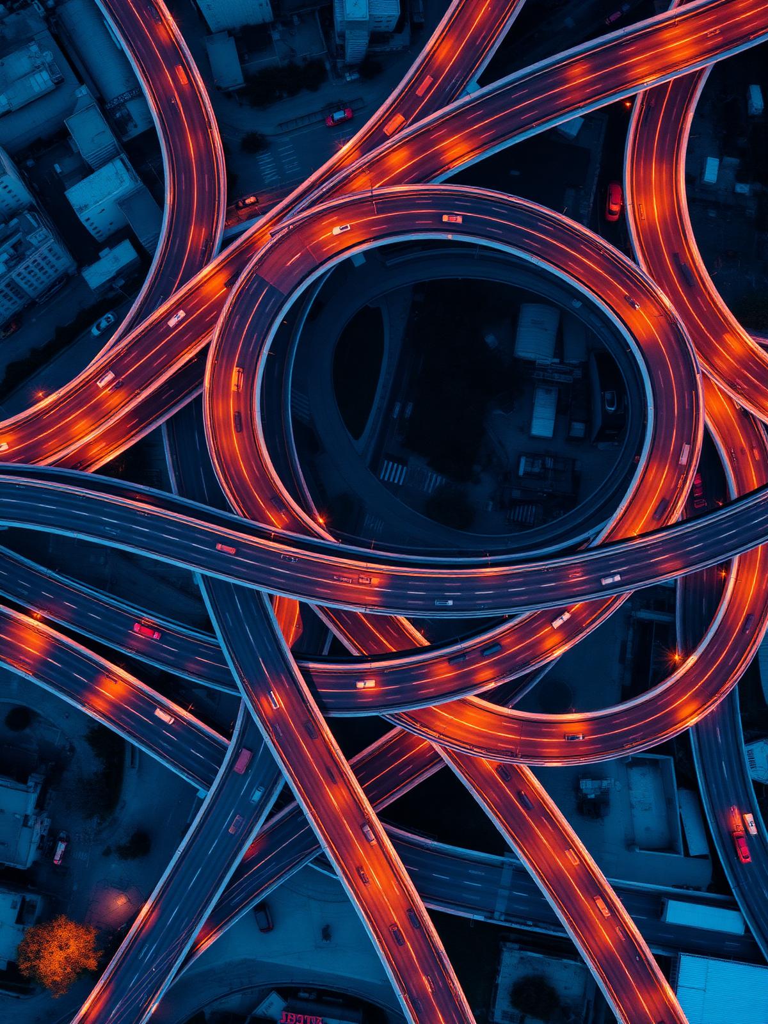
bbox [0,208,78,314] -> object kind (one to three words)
building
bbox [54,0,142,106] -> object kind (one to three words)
building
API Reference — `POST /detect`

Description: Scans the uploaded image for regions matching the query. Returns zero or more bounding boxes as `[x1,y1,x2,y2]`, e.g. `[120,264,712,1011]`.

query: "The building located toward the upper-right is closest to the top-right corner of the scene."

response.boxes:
[552,118,583,145]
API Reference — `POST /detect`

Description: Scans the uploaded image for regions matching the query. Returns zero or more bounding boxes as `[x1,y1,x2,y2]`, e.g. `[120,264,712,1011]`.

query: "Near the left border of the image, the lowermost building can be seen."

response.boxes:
[0,876,53,969]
